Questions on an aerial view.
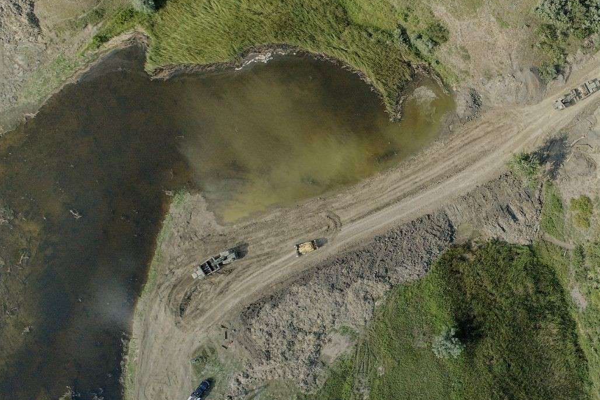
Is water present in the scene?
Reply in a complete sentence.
Yes, there's water in this view.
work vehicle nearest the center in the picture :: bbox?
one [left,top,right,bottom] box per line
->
[294,239,319,258]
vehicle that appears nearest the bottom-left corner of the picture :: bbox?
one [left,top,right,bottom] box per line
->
[187,381,209,400]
